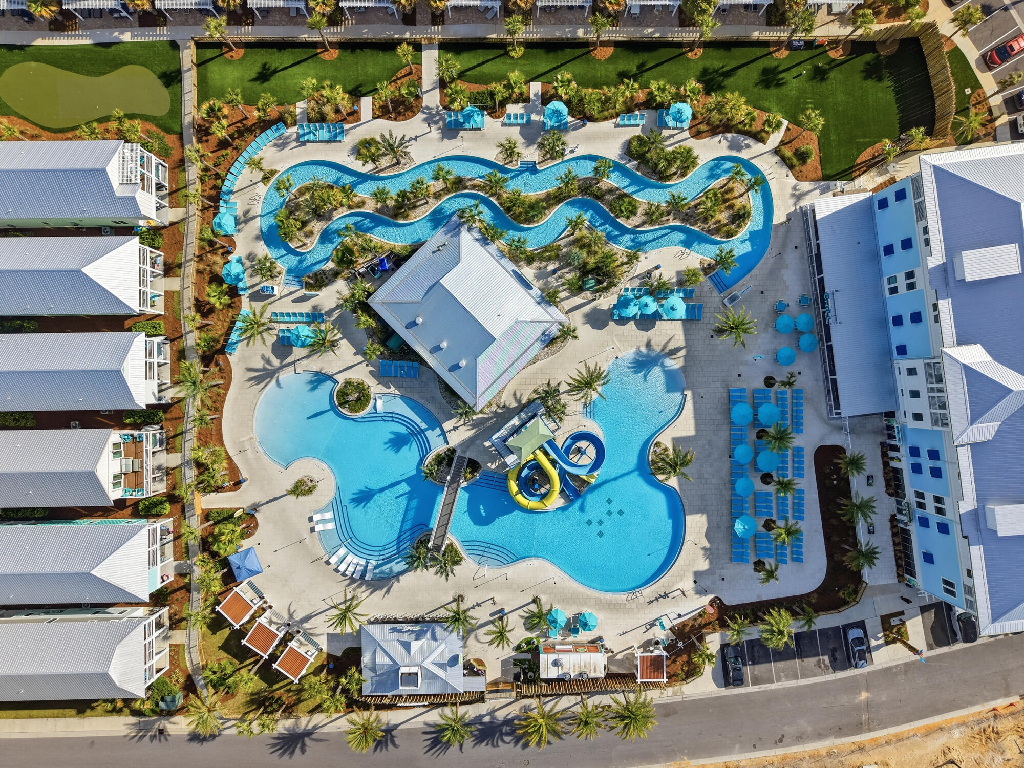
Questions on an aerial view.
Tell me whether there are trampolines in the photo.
No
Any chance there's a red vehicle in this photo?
Yes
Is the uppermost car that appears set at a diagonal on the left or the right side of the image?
right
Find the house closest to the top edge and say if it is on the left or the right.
left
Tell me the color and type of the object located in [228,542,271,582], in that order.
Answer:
blue tent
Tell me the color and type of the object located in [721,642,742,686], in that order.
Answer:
black car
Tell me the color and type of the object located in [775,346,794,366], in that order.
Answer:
blue umbrella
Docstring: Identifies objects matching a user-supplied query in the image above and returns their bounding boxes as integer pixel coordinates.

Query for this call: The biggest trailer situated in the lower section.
[539,645,604,680]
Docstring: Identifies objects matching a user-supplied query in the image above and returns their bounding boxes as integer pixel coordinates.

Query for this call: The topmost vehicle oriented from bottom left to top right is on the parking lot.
[988,32,1024,66]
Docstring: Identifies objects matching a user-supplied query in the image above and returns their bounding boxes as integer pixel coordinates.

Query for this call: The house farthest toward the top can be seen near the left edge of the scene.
[0,141,171,226]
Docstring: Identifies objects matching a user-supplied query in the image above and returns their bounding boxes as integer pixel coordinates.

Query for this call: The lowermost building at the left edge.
[0,608,172,699]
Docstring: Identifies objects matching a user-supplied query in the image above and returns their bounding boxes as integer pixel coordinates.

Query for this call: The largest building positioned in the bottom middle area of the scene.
[360,616,486,696]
